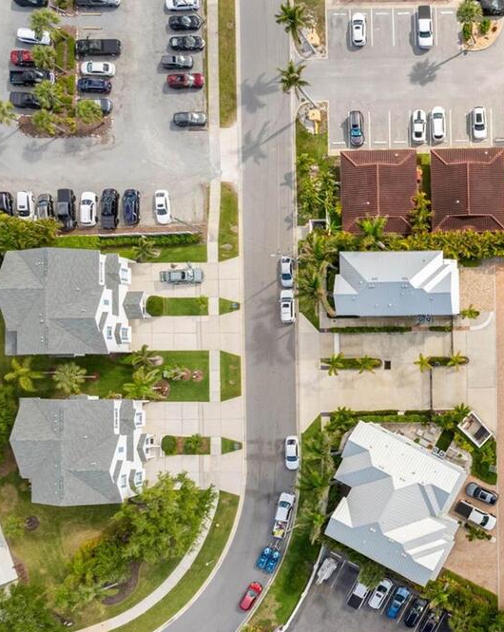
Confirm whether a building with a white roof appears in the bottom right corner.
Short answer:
Yes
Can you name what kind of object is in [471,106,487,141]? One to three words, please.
car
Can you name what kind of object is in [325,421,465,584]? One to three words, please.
house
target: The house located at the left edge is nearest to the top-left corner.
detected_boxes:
[0,247,152,353]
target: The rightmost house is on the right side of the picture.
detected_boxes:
[430,147,504,232]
